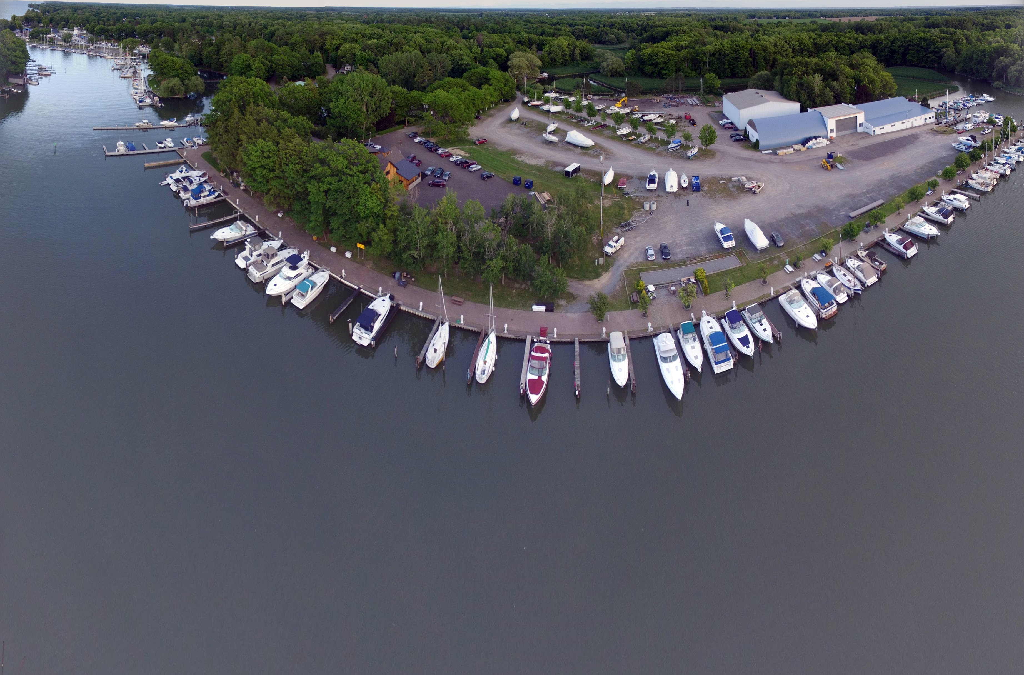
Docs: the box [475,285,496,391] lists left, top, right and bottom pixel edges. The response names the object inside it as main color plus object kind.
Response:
white boat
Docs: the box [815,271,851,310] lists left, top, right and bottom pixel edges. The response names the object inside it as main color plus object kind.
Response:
white boat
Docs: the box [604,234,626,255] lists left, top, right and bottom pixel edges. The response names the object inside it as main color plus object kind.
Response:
white truck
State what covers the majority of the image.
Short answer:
water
